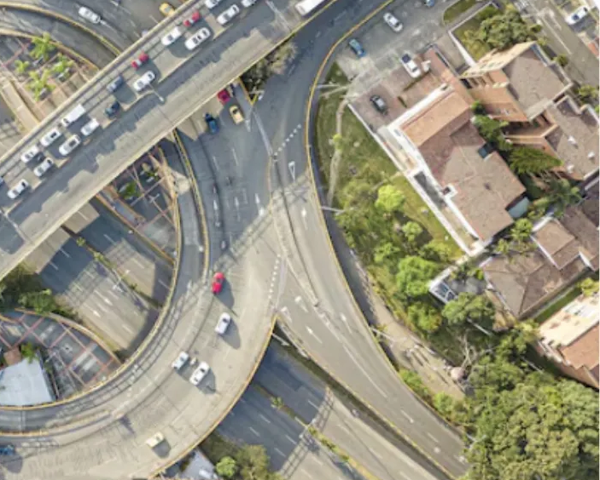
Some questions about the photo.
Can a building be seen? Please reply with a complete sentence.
Yes, a building is visible in the scene.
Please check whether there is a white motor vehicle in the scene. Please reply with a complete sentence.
Yes, you can see a white motor vehicle in this photo.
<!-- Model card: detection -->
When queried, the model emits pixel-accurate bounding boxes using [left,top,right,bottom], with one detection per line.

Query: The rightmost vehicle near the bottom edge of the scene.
[195,466,217,480]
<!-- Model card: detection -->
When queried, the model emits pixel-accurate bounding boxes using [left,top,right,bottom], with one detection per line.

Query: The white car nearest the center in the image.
[216,313,230,334]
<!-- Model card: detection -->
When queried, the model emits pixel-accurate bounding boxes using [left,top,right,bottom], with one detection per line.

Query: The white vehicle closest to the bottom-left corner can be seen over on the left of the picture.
[146,433,165,448]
